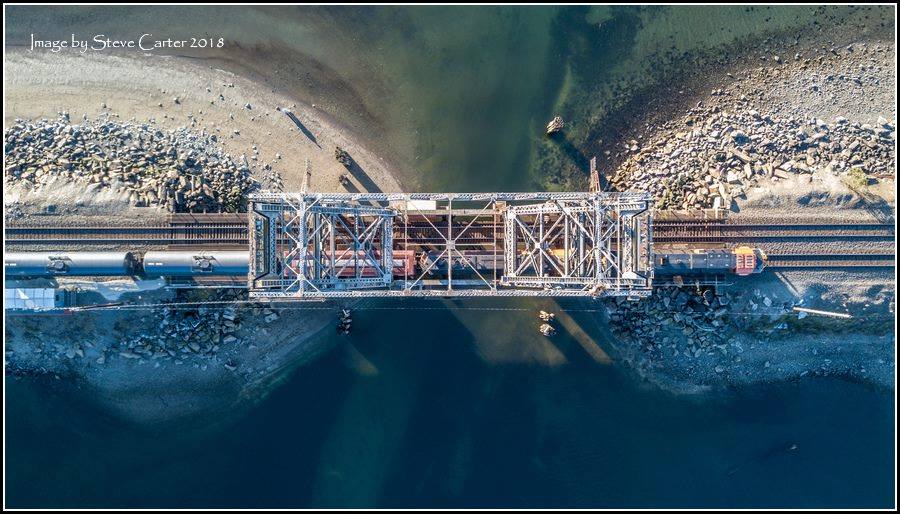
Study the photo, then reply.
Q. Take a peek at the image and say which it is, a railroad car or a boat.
railroad car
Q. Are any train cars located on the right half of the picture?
Yes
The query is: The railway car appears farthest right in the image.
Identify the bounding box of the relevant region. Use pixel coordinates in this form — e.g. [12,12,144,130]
[582,248,766,275]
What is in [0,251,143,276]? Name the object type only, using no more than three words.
rail car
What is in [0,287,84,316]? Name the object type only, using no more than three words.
shed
